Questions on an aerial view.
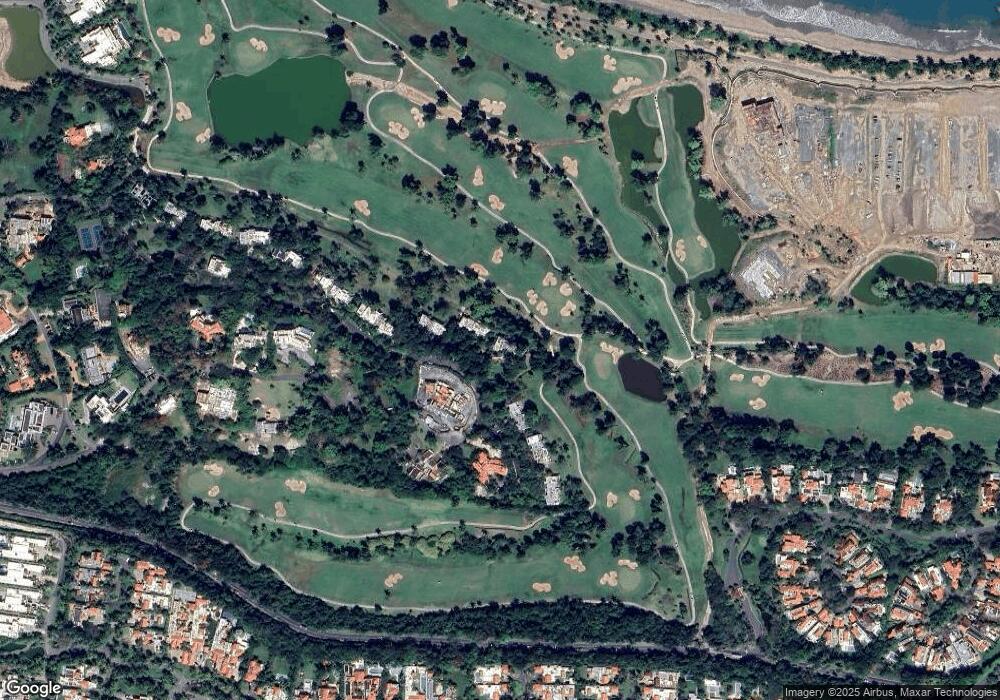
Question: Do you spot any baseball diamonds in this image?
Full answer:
No, I find no baseball diamond anywhere in the image.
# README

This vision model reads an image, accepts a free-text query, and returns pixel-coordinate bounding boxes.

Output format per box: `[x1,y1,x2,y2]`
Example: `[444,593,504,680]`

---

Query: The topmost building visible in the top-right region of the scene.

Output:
[742,100,785,145]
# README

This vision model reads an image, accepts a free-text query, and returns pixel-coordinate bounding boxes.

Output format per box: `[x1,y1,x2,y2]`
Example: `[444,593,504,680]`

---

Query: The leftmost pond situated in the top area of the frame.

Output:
[0,5,58,82]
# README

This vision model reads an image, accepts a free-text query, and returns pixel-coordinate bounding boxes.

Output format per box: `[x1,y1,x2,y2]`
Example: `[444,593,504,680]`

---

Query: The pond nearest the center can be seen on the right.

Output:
[618,351,669,401]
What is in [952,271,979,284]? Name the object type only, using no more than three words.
shed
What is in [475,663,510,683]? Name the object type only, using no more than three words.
house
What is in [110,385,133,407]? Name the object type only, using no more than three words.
swimming pool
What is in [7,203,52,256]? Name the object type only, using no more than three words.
house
